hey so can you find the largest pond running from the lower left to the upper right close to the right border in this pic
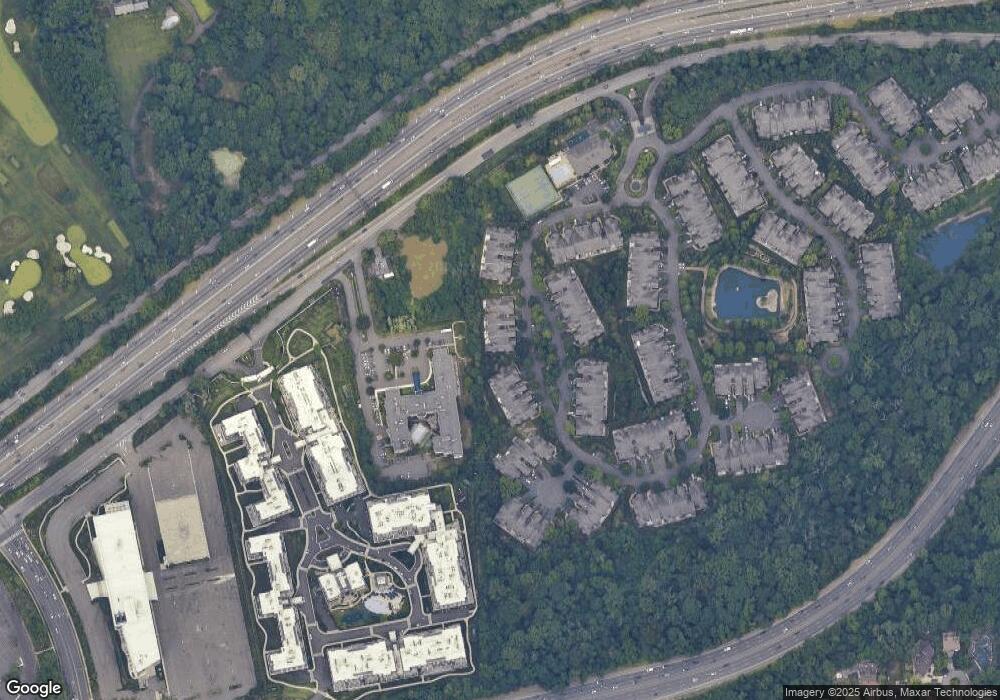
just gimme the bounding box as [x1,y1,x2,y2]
[923,208,990,270]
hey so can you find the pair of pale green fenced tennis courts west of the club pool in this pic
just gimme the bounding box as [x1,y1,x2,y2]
[505,163,560,217]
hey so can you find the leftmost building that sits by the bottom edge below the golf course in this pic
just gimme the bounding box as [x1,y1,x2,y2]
[87,500,161,687]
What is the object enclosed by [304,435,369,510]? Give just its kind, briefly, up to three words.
building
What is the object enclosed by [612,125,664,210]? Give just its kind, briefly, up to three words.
roundabout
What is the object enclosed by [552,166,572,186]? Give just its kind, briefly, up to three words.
swimming pool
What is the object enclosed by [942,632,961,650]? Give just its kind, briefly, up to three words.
house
